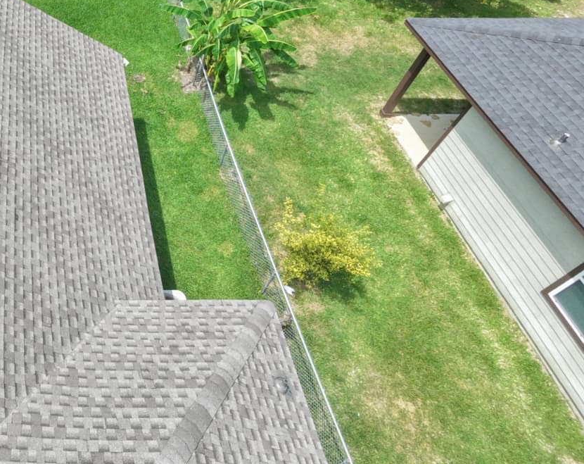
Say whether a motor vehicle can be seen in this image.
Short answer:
No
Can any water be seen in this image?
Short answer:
No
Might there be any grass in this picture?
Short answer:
Yes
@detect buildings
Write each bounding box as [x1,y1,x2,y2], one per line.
[0,0,328,464]
[385,18,584,430]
